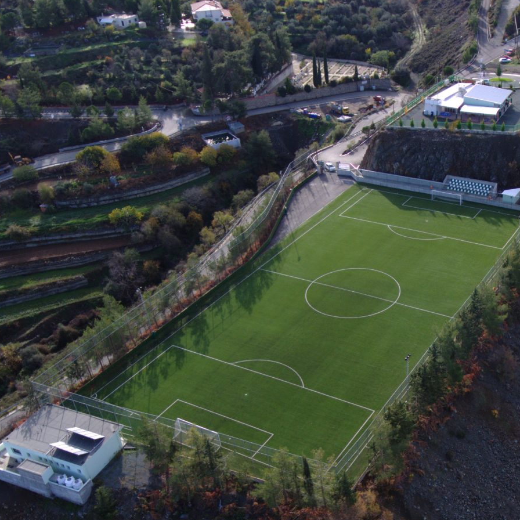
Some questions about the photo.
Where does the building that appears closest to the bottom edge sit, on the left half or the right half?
left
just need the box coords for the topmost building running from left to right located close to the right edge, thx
[423,82,514,127]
